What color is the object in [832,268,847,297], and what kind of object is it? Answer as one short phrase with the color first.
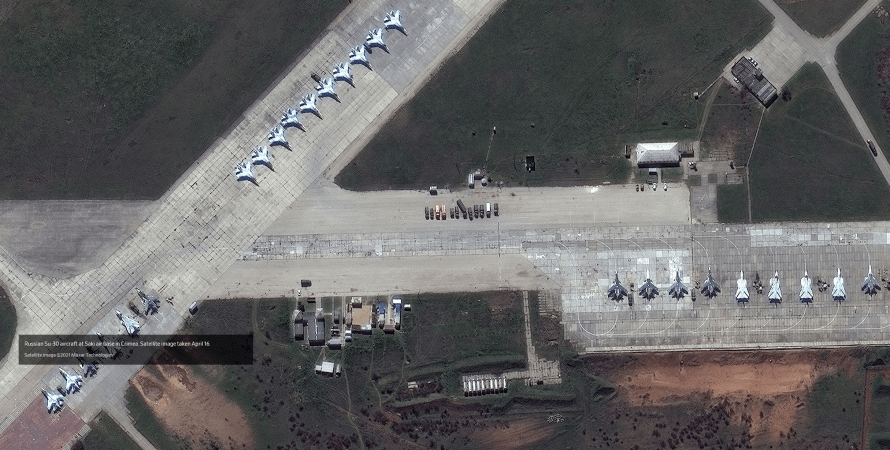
white airplane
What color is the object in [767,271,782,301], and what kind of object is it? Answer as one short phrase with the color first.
white airplane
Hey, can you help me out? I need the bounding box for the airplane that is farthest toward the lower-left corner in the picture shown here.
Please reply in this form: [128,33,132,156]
[42,389,66,414]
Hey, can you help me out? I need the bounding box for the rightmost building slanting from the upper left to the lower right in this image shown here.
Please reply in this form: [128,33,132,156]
[731,58,776,103]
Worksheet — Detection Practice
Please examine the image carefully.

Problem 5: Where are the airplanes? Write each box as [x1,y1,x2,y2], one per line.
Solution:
[668,270,688,297]
[800,272,814,300]
[608,271,627,299]
[136,288,160,312]
[860,265,880,292]
[832,268,847,297]
[77,351,101,375]
[365,25,389,49]
[116,308,140,334]
[281,103,305,128]
[735,270,750,300]
[234,157,258,182]
[347,42,371,65]
[382,7,407,31]
[639,270,658,297]
[315,74,340,98]
[767,271,782,301]
[268,122,291,146]
[297,90,322,114]
[331,59,354,83]
[701,268,720,294]
[42,389,66,414]
[249,142,275,168]
[60,368,83,393]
